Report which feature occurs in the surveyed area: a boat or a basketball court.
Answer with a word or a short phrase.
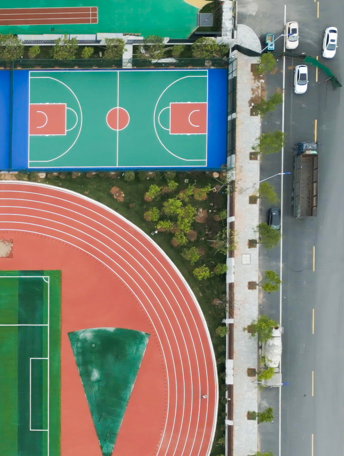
basketball court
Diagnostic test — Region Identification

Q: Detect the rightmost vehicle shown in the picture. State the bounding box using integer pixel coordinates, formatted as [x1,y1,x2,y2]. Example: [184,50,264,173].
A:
[319,27,338,59]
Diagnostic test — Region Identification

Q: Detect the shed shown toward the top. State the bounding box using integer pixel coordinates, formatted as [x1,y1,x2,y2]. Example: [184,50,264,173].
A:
[193,13,213,32]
